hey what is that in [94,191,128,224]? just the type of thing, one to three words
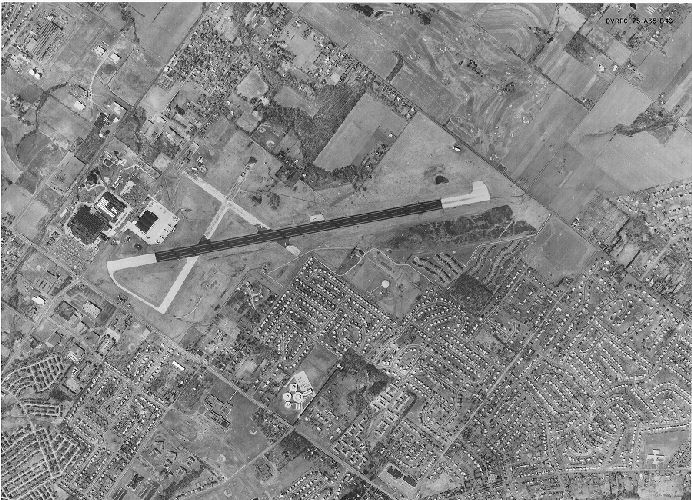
building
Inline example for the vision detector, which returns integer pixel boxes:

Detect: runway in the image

[155,199,442,263]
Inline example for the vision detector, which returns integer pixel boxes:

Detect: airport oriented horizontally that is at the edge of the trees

[84,113,550,352]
